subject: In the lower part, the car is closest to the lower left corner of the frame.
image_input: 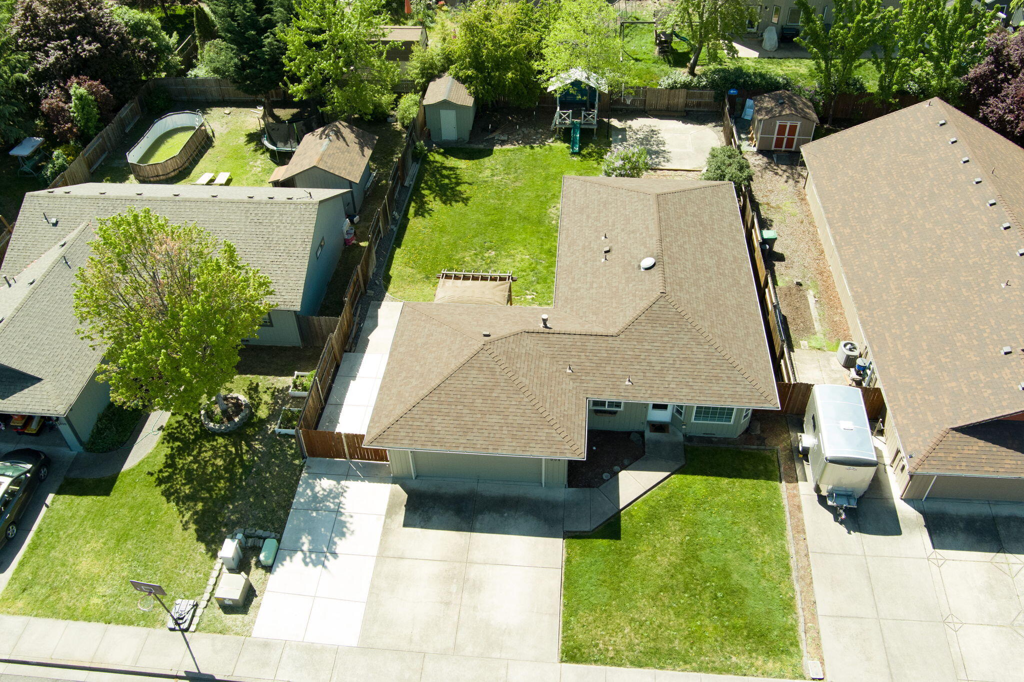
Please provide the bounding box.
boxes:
[0,448,49,544]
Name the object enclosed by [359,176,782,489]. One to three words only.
house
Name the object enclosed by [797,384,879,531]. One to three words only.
trailer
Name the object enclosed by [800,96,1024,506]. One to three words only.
house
